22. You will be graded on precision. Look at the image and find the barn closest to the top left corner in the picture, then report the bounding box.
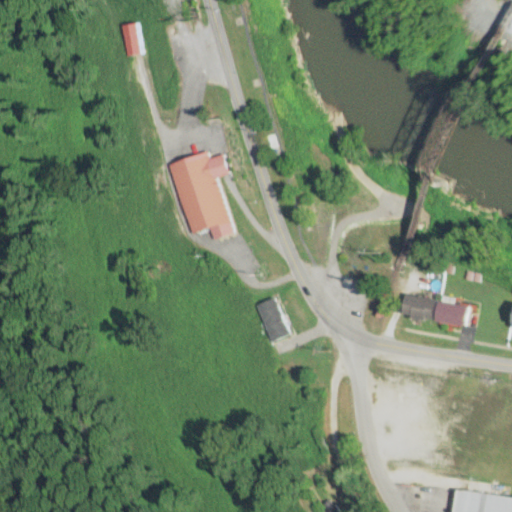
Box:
[122,21,147,56]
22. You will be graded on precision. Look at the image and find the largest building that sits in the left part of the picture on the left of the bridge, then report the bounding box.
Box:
[170,152,237,241]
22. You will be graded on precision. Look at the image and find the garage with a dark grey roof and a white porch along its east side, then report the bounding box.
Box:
[256,298,292,342]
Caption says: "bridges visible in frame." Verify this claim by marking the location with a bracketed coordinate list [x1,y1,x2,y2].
[396,6,512,265]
